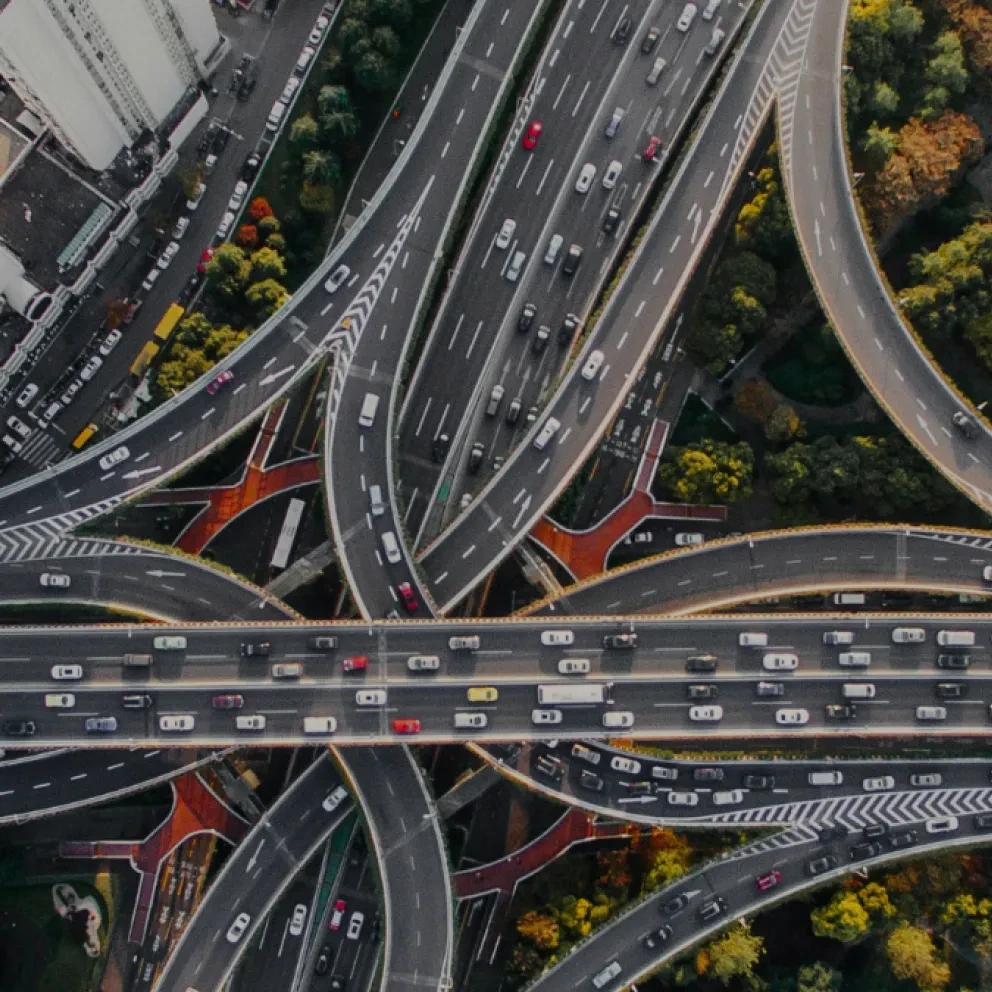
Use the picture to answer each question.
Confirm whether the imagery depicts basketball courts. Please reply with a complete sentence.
No, there isn't any basketball court down there.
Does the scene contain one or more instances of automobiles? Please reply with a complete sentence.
Yes, the image includes an automobile.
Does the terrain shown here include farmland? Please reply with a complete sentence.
No, farmland can't be seen anywhere here.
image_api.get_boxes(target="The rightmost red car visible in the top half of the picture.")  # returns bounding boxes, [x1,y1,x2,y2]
[643,137,661,161]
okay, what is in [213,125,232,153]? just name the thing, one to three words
car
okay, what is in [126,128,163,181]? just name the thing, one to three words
shed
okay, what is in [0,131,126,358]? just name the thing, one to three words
building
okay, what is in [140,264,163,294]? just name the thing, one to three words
truck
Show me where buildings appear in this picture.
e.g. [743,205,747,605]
[0,0,222,170]
[0,131,126,358]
